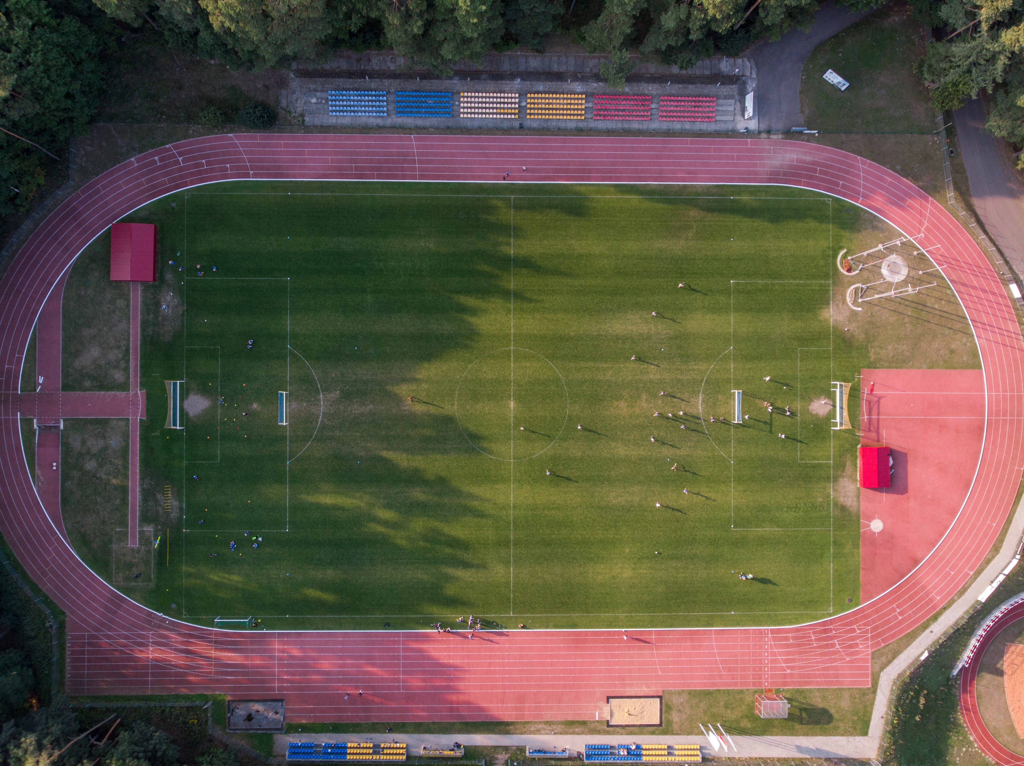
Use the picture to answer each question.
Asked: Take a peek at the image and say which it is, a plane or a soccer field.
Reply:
soccer field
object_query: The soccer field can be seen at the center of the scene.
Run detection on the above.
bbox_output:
[145,180,861,630]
